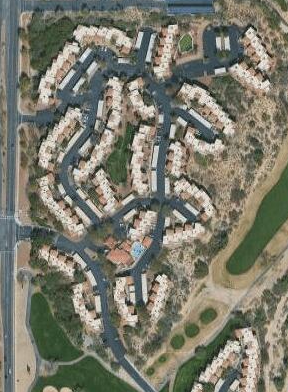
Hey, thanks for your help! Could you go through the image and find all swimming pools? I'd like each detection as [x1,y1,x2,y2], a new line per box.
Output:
[130,242,147,262]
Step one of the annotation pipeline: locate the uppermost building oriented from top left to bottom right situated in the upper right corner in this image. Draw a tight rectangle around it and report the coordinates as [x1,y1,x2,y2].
[243,29,277,68]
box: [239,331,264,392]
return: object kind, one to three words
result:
building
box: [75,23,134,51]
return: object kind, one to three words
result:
building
